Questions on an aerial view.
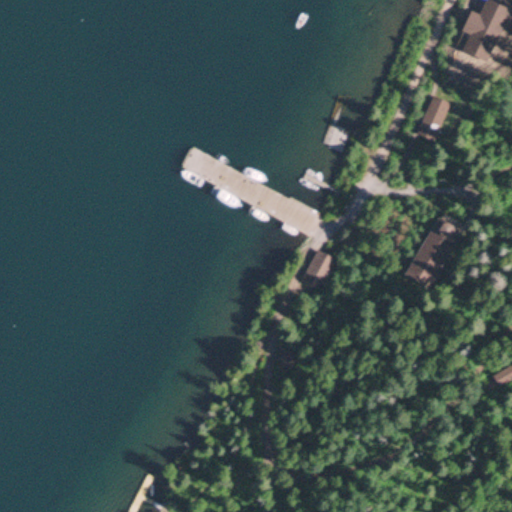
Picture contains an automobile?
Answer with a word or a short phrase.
No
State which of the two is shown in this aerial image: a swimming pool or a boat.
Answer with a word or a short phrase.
boat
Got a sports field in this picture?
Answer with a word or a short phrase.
No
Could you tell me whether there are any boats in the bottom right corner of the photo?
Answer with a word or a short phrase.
No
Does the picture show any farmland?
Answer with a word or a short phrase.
No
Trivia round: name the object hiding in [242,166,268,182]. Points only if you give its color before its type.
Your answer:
white boat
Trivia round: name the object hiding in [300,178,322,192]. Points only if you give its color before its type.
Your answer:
white boat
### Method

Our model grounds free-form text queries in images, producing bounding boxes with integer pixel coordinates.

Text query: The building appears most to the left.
[308,250,332,279]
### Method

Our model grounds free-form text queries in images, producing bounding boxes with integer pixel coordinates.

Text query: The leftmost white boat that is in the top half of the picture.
[182,172,206,188]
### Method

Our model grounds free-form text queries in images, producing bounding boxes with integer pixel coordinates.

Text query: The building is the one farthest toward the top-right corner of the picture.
[462,0,512,62]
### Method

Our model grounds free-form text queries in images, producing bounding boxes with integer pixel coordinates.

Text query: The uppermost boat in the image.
[297,12,309,28]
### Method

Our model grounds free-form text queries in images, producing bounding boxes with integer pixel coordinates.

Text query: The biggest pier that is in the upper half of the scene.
[184,148,321,234]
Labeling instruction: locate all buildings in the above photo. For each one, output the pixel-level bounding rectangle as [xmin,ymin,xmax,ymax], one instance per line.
[462,0,512,62]
[408,221,458,284]
[308,250,332,279]
[496,366,512,387]
[424,96,451,130]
